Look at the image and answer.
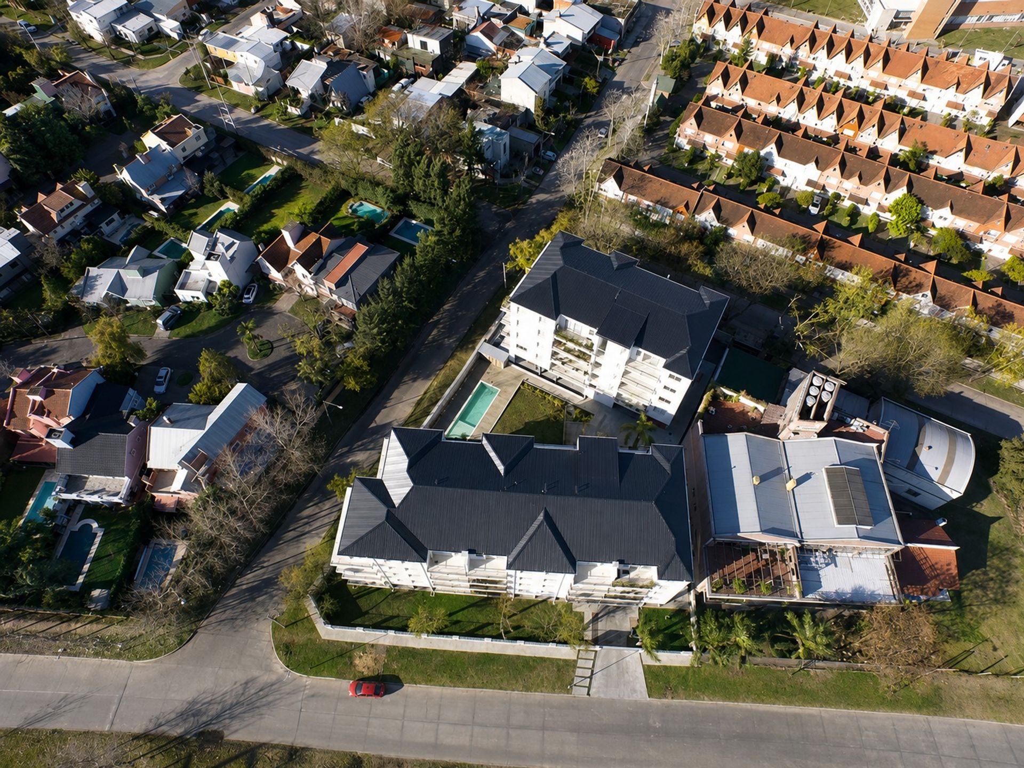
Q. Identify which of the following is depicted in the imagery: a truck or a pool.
pool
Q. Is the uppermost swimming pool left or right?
left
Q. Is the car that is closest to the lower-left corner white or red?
red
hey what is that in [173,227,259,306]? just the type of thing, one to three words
house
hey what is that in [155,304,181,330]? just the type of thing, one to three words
car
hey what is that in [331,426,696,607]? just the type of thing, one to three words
building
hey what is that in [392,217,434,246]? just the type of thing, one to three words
swimming pool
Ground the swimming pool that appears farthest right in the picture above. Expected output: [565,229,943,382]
[446,380,499,442]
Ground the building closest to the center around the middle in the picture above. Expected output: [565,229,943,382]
[485,350,511,377]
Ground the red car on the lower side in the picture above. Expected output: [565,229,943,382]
[348,678,386,698]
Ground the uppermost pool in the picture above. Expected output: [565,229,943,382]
[243,164,284,195]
